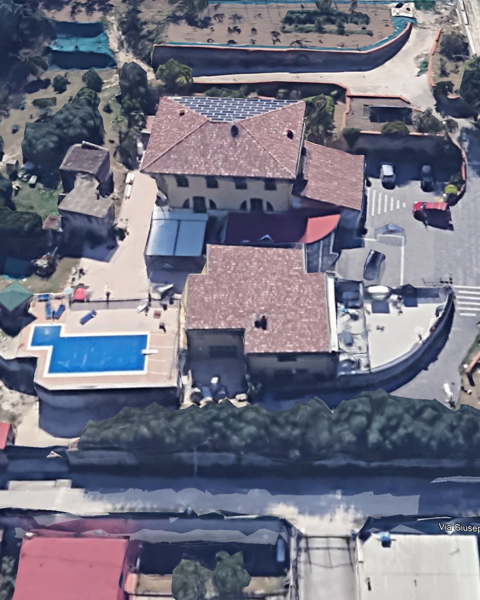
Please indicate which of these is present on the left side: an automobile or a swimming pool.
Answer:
swimming pool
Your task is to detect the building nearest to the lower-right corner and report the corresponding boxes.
[354,532,480,600]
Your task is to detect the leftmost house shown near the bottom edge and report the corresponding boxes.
[7,532,134,600]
